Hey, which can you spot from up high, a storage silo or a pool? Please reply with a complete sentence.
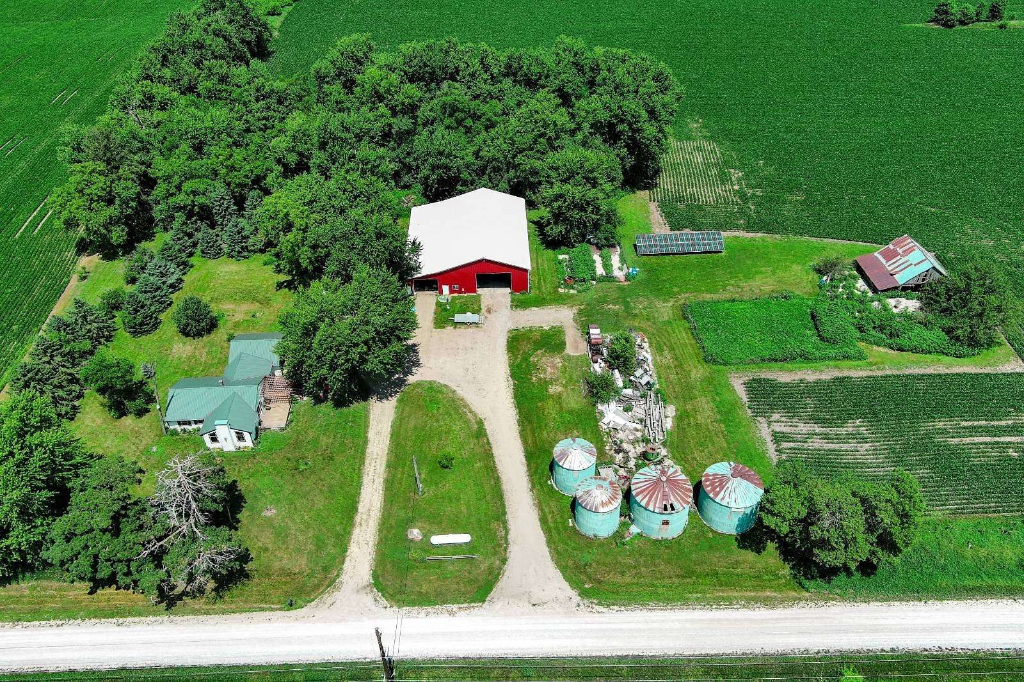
There is a storage silo in the scene.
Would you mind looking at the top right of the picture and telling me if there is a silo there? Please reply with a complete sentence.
No, I can find no silo at the top right of the picture.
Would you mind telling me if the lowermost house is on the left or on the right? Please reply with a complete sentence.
You can find the lowermost house on the left side of the picture.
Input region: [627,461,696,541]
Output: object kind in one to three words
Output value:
silo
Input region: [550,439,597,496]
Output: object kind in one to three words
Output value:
silo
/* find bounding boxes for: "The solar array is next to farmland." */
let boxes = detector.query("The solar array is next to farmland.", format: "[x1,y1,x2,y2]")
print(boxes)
[635,232,724,256]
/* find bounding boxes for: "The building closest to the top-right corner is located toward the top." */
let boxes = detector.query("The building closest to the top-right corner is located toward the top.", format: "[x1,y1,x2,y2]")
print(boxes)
[855,234,949,302]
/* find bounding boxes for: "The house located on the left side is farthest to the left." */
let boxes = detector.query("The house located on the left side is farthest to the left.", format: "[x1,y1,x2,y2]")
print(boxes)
[165,332,297,449]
